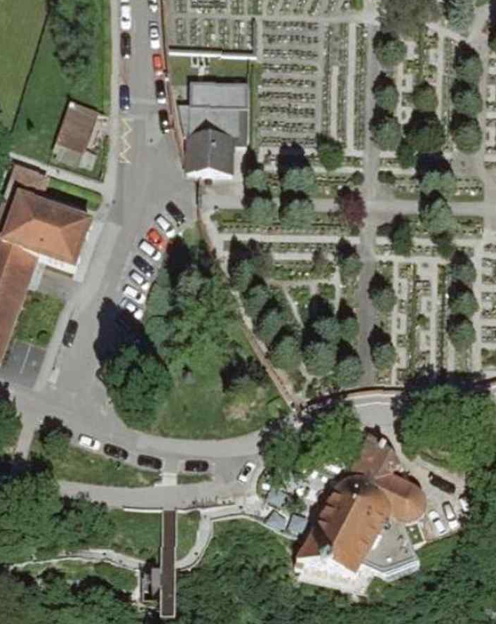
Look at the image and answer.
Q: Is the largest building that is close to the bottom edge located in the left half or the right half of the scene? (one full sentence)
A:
The largest building that is close to the bottom edge is on the right side of the image.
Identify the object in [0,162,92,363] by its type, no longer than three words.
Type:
house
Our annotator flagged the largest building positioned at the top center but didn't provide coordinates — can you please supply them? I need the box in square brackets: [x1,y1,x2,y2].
[179,81,249,196]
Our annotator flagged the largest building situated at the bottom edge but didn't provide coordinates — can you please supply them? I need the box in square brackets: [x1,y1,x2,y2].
[296,434,425,596]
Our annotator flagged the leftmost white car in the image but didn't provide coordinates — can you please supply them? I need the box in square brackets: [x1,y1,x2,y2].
[78,436,99,449]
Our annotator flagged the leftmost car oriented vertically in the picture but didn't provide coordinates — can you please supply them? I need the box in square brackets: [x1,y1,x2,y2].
[64,320,77,345]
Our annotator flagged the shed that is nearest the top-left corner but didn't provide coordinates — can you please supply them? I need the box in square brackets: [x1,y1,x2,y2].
[57,101,97,158]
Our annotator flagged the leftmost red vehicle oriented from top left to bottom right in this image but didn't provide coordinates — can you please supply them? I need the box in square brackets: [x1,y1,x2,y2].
[147,229,165,248]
